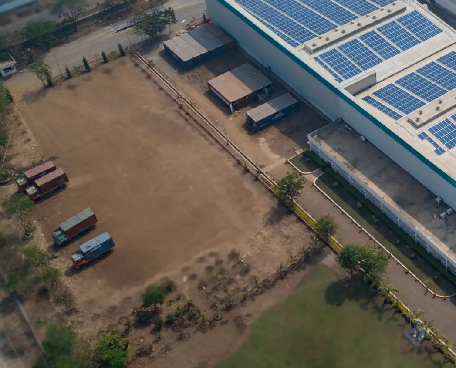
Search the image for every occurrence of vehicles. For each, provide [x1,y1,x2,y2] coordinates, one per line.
[70,231,116,269]
[12,158,56,192]
[24,165,69,198]
[50,205,101,244]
